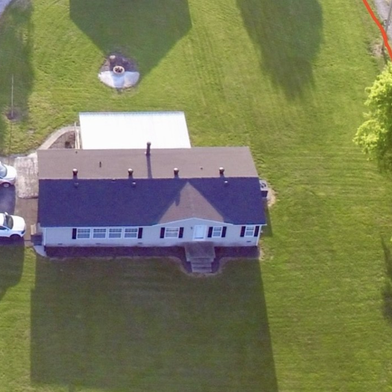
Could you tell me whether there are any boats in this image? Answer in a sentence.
No, I can't see a single boat in this photo.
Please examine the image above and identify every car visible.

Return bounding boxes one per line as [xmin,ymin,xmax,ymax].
[0,162,17,190]
[0,213,25,242]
